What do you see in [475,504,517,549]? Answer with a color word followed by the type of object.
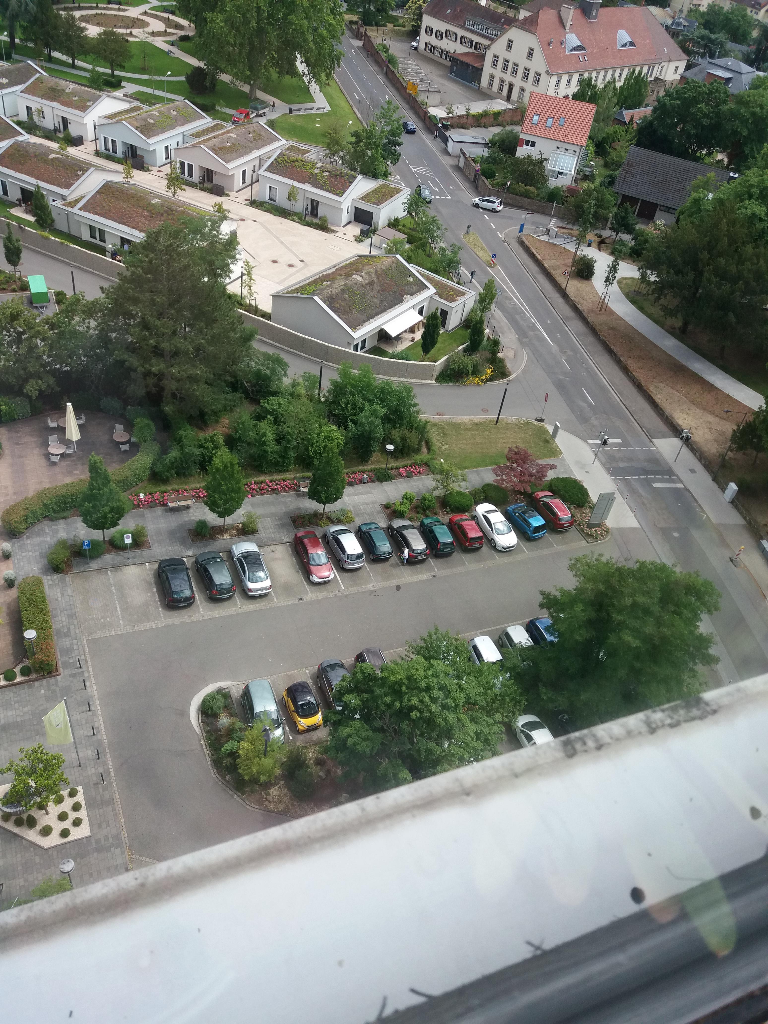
white car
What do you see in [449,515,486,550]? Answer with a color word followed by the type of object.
red car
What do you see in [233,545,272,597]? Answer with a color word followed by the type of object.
gray car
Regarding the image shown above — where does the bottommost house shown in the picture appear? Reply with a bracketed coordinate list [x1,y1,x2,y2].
[268,253,476,353]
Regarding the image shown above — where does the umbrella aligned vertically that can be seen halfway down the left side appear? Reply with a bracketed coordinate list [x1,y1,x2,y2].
[67,403,81,455]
